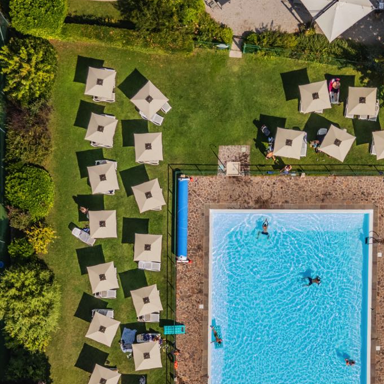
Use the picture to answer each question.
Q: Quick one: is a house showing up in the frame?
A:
No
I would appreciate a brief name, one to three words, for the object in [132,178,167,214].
umbrella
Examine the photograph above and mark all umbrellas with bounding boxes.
[87,363,122,384]
[300,0,374,42]
[134,132,163,162]
[372,130,384,160]
[86,161,119,194]
[88,210,117,240]
[132,233,162,263]
[132,338,163,370]
[272,126,306,160]
[347,86,377,117]
[129,81,171,121]
[298,81,331,115]
[85,67,118,101]
[85,260,119,294]
[130,282,164,316]
[84,112,119,149]
[132,178,167,214]
[85,310,121,346]
[318,124,356,162]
